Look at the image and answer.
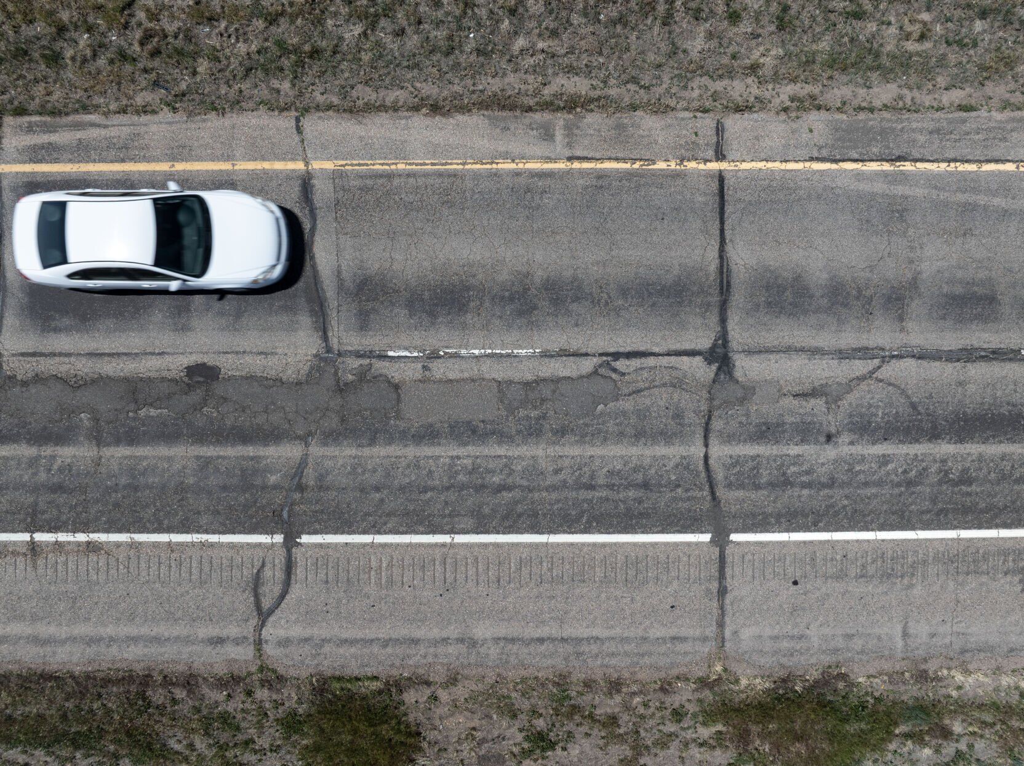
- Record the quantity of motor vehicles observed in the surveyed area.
1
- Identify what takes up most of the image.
paved ground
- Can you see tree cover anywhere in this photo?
No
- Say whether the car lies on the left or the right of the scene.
left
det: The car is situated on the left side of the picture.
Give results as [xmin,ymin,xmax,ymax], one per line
[13,181,289,291]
